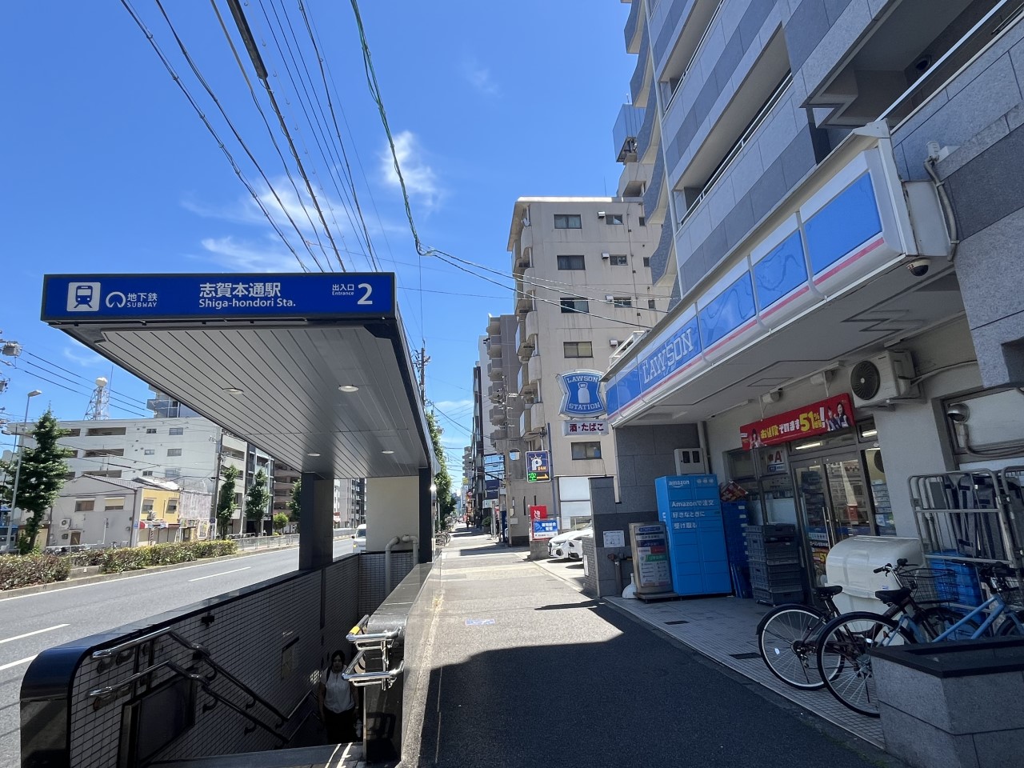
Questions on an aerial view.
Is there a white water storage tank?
No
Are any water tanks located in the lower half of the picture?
No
